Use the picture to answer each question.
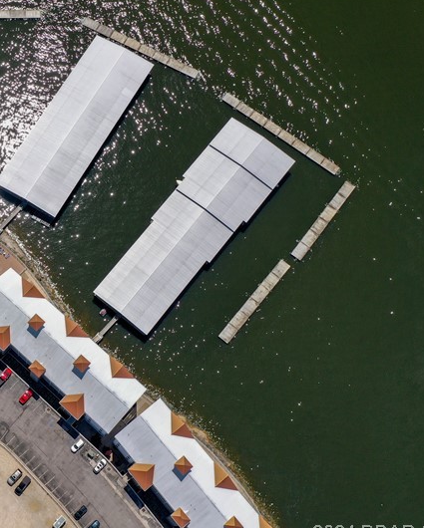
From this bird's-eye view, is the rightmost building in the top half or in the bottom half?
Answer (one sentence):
The bottom half of the photo is where the rightmost building is.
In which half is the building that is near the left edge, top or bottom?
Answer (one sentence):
Seen from above, the building that is near the left edge lies in the bottom half of the view.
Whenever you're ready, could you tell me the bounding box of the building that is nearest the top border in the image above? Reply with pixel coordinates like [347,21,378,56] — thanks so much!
[0,269,146,435]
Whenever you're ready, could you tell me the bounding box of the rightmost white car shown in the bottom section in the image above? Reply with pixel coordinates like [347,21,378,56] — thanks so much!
[93,459,106,474]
